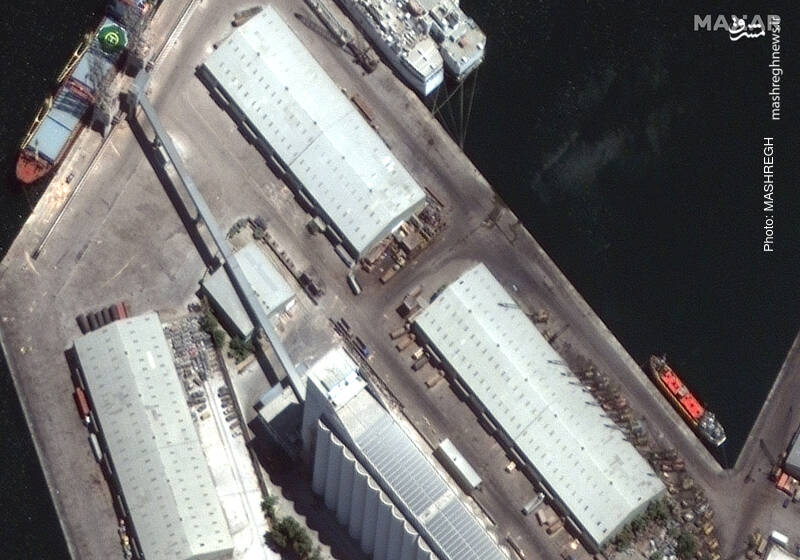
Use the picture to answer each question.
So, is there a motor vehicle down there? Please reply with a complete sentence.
Yes, there is a motor vehicle in the image.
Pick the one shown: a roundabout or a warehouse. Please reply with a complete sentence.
The one in the frame is a warehouse.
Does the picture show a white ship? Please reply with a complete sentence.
Yes, looking at the shot, I can spot a white ship.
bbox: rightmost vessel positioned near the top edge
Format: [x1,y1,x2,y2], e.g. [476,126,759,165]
[420,0,487,77]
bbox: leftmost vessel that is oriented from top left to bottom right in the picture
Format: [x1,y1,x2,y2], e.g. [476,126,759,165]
[340,0,443,95]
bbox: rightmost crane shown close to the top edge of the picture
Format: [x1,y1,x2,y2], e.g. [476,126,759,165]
[306,0,384,73]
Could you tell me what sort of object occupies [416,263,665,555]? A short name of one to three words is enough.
warehouse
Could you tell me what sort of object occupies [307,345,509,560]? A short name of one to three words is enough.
silo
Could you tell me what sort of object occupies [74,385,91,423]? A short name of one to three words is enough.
vehicle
